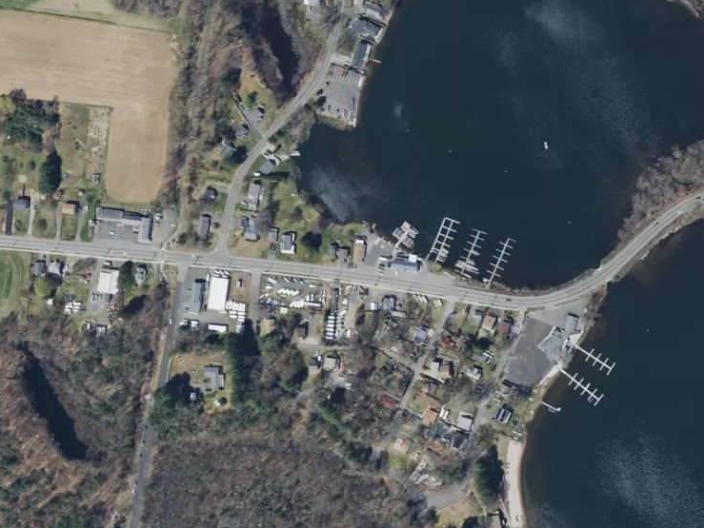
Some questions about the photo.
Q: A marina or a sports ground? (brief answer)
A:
marina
